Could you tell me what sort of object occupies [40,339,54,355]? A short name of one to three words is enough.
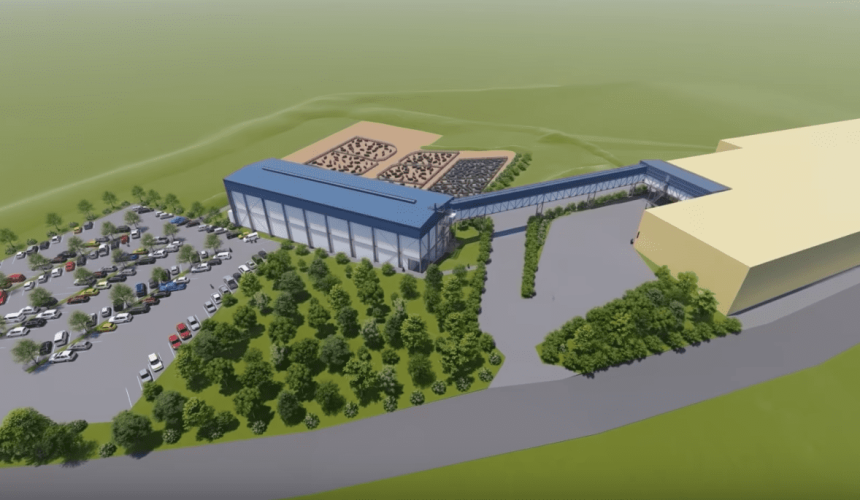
vehicle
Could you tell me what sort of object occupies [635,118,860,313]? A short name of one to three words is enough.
building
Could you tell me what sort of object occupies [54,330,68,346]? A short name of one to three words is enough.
car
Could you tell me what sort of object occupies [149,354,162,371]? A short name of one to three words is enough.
vehicle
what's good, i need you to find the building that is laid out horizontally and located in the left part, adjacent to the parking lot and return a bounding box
[223,158,454,276]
